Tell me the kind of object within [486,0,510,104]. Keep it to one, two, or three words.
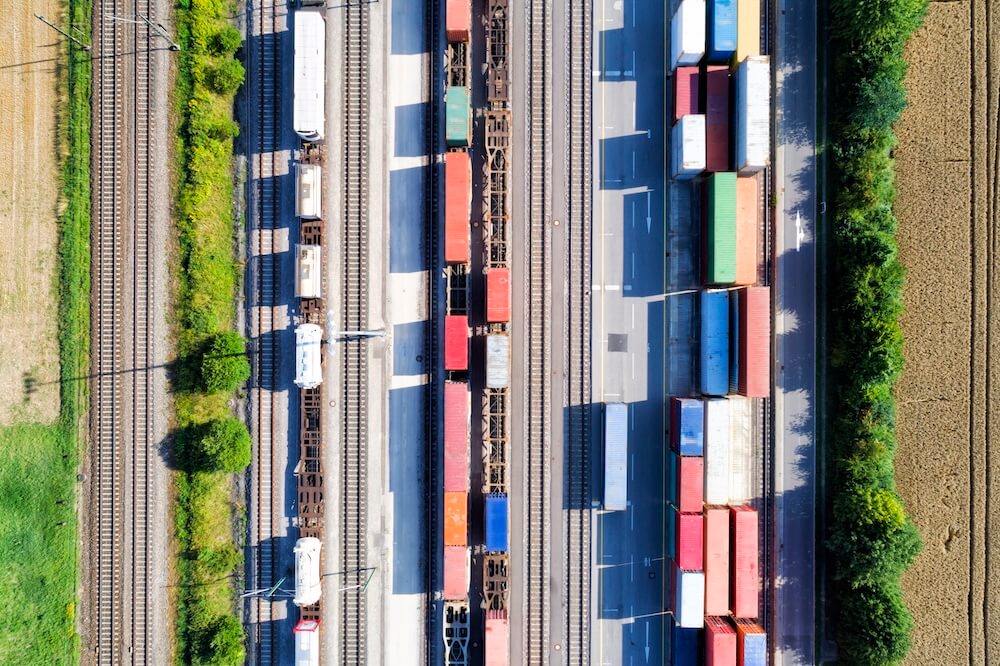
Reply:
rail car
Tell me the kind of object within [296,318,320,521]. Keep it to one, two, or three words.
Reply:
rail car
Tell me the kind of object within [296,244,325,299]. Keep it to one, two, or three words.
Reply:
shipping container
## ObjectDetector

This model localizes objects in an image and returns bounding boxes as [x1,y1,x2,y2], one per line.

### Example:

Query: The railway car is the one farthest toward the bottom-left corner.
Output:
[295,522,320,625]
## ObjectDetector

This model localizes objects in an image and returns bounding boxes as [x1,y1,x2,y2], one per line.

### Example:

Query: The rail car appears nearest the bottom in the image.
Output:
[444,604,469,666]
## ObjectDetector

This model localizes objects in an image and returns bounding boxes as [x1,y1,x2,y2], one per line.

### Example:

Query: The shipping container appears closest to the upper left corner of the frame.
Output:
[296,165,325,222]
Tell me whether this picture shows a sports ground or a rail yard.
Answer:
rail yard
